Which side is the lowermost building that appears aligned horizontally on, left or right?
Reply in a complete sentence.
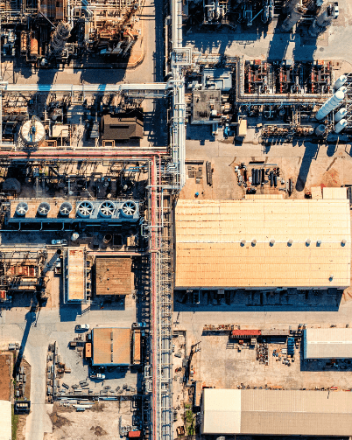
The lowermost building that appears aligned horizontally sits on the right side.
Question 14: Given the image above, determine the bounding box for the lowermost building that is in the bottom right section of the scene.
[198,388,352,438]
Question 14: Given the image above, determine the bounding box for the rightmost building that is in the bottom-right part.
[301,328,352,363]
